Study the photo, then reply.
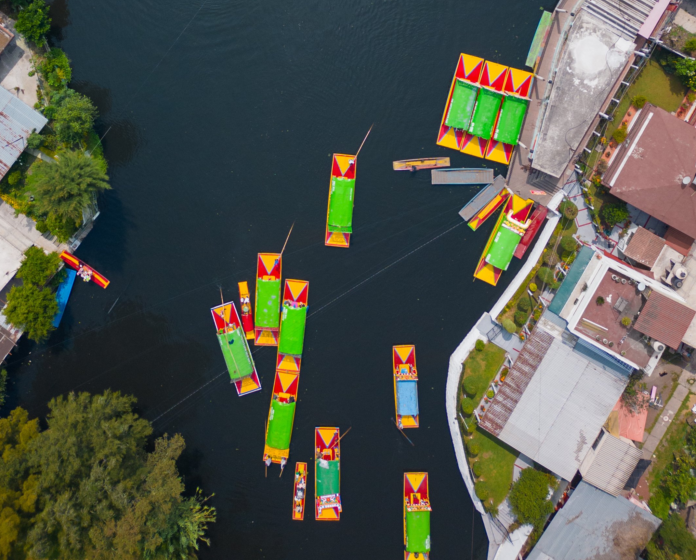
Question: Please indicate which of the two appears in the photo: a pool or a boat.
boat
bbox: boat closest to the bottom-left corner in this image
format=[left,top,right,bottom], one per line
[50,267,76,328]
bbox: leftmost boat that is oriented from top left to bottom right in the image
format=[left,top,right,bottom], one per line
[61,250,111,290]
